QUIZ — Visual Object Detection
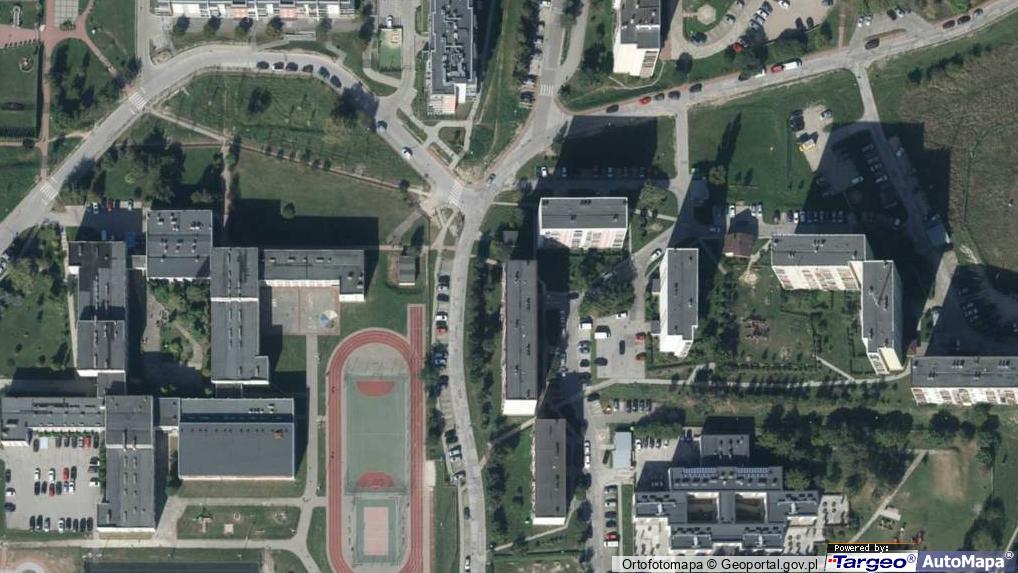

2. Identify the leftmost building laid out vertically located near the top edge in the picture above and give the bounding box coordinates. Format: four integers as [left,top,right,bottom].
[431,0,472,112]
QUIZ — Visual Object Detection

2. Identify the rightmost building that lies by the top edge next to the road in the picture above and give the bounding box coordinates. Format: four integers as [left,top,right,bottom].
[615,0,660,77]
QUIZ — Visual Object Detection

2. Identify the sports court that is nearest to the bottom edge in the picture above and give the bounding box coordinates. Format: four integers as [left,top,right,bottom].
[355,497,400,565]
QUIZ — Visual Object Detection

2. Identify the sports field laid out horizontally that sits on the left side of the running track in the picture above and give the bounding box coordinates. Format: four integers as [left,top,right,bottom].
[85,549,259,573]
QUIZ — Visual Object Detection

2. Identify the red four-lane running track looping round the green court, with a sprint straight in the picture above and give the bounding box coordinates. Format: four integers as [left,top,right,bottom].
[325,303,426,573]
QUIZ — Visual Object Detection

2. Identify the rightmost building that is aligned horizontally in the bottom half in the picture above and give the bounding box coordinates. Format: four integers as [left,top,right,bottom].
[910,357,1018,407]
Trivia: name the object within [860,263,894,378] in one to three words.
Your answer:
building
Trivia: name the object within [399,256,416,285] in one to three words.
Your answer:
house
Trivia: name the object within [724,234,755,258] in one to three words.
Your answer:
house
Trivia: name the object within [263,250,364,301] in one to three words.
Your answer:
building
